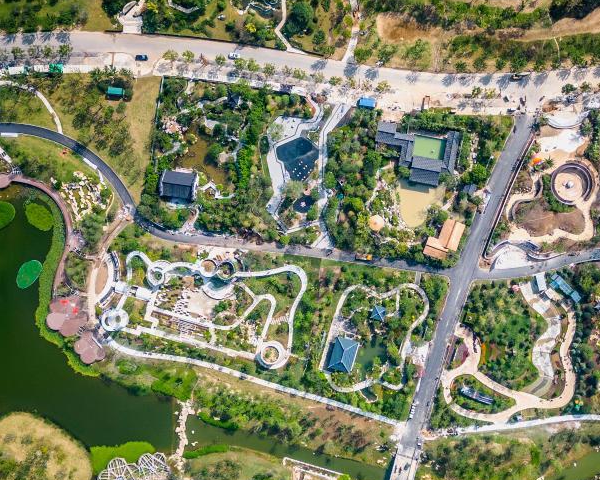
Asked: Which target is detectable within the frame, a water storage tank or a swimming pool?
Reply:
swimming pool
